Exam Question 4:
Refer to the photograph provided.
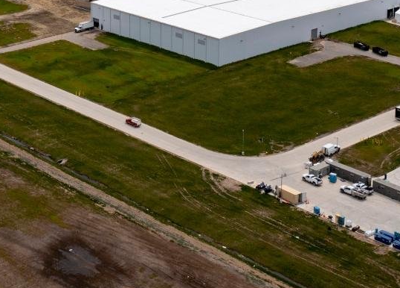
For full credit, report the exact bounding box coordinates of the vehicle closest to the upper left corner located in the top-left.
[73,19,97,33]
